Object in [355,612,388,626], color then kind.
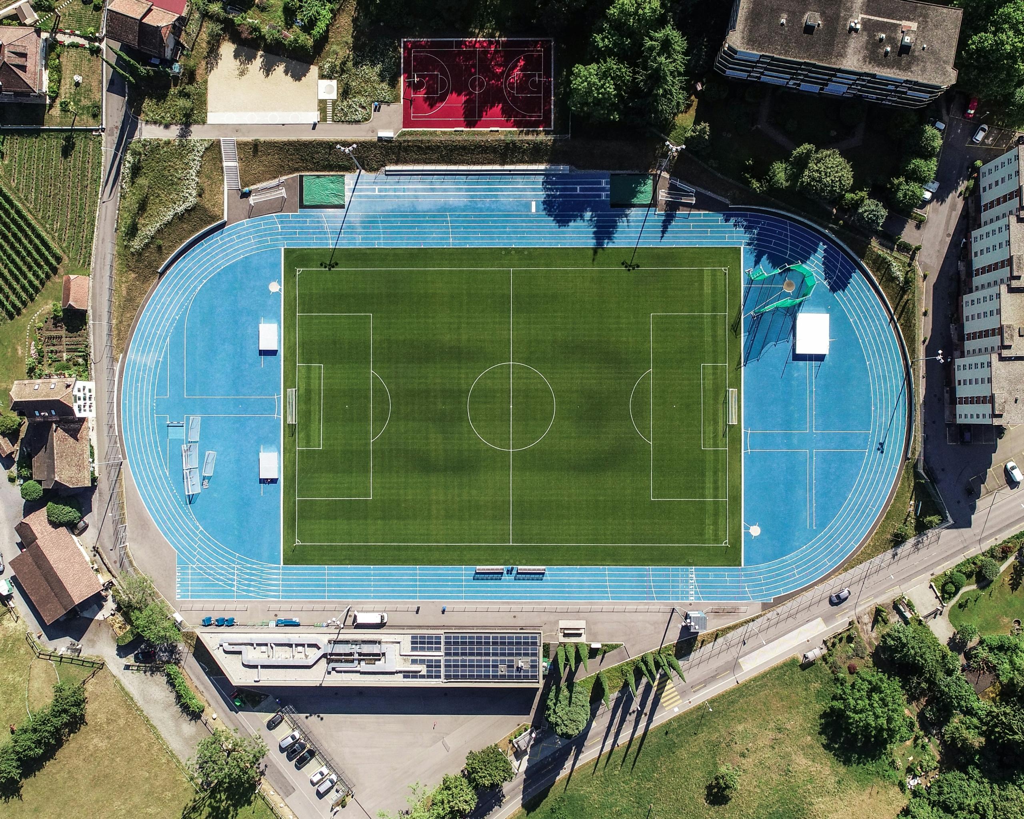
white vehicle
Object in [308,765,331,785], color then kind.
white car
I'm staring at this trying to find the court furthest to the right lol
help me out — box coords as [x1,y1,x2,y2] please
[402,38,553,130]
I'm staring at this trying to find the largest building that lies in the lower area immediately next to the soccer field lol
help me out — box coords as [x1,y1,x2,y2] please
[193,626,542,687]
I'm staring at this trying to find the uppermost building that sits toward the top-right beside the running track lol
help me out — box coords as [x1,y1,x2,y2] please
[707,0,963,119]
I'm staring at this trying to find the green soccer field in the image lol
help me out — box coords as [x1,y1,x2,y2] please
[283,247,742,566]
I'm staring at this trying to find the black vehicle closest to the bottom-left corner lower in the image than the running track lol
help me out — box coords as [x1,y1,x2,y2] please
[135,651,155,663]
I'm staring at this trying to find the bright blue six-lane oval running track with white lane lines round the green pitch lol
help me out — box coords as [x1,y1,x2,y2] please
[121,172,907,602]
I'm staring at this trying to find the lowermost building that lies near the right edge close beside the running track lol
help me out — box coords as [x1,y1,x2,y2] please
[938,355,1024,425]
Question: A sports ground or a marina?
sports ground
